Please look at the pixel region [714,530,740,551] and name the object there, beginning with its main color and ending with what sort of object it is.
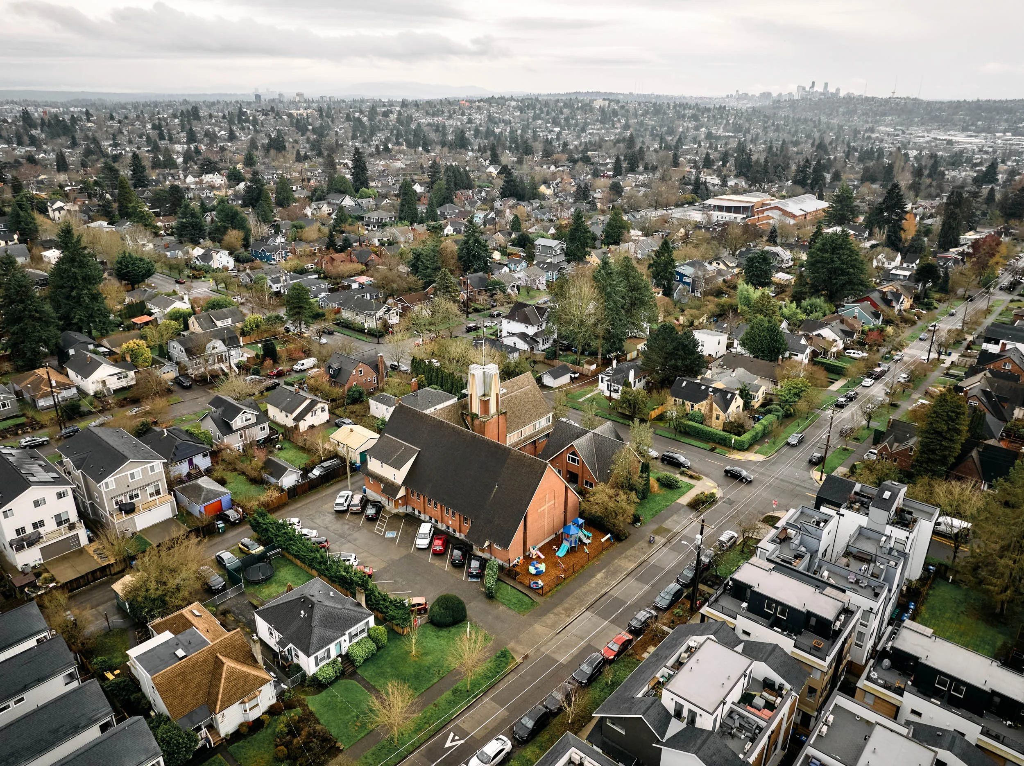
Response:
gray car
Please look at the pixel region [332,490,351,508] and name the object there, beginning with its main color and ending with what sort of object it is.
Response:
white car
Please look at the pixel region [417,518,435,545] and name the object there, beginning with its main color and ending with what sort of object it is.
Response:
white car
